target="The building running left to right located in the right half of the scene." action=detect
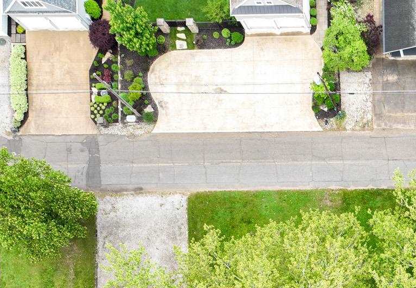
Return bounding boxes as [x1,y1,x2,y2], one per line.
[233,0,310,36]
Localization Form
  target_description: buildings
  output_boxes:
[383,0,416,60]
[233,0,310,36]
[3,0,88,32]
